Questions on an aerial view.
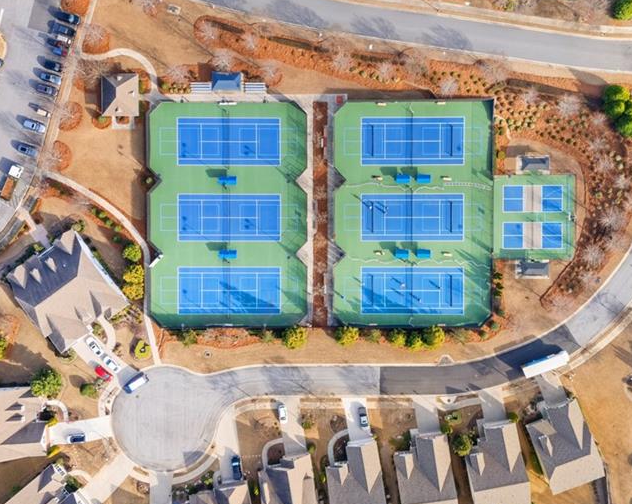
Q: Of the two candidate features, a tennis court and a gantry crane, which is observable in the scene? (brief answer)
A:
tennis court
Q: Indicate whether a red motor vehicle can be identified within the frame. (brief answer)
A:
Yes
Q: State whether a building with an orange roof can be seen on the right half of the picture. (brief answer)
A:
No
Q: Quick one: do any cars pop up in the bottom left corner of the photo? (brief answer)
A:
Yes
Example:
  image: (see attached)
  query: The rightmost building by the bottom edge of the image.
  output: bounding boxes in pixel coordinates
[524,398,594,495]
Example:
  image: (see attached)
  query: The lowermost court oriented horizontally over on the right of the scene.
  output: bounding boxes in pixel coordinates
[334,255,493,326]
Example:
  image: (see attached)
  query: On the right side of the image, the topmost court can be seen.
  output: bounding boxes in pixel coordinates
[334,99,493,179]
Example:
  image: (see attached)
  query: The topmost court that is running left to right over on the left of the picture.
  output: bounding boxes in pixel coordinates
[149,102,306,179]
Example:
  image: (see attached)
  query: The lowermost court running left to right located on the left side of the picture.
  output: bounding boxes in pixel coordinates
[149,255,306,327]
